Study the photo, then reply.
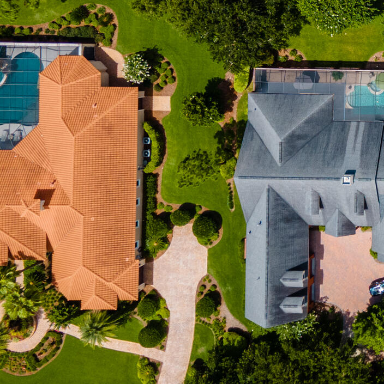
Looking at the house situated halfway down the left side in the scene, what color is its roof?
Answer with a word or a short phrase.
orange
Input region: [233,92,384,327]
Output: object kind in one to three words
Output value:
house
